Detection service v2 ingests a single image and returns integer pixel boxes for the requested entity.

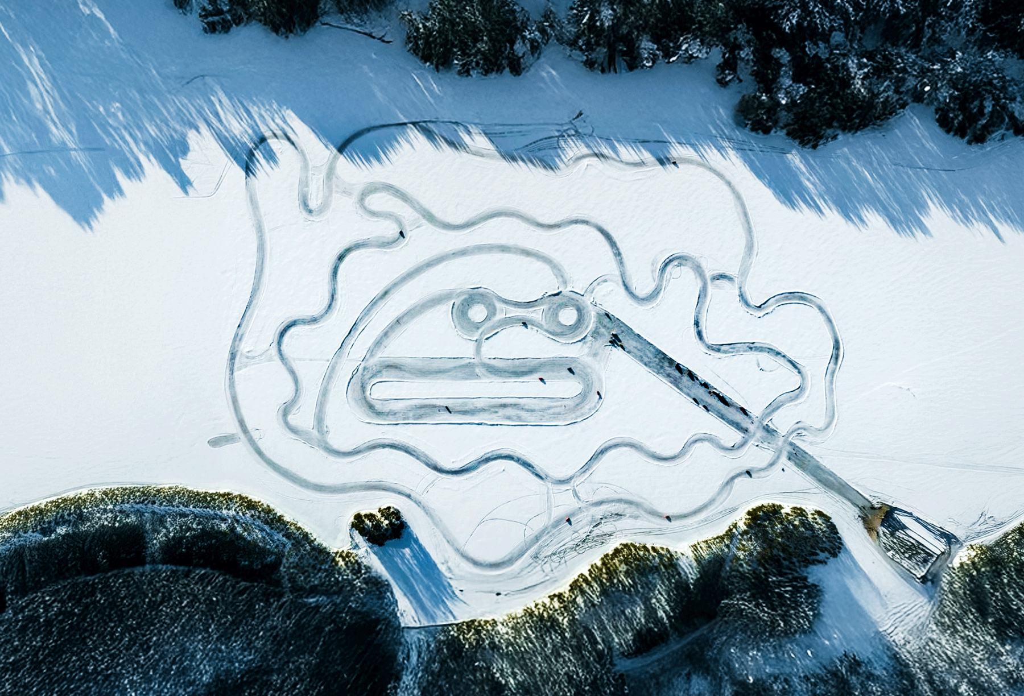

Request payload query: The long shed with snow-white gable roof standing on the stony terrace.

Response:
[894,515,946,556]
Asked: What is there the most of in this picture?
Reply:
water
